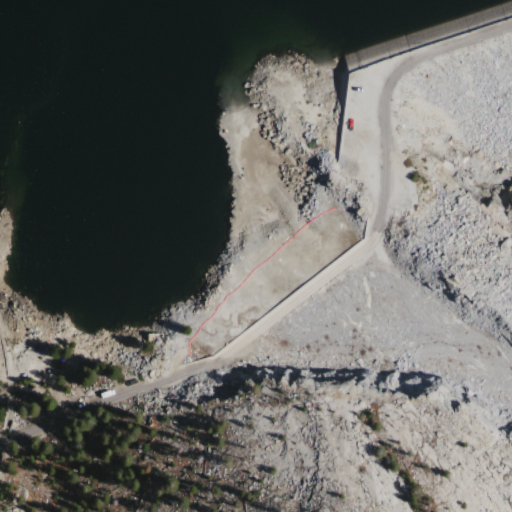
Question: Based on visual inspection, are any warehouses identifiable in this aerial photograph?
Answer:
No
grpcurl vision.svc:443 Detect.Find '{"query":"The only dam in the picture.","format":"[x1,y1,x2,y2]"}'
[344,0,512,72]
